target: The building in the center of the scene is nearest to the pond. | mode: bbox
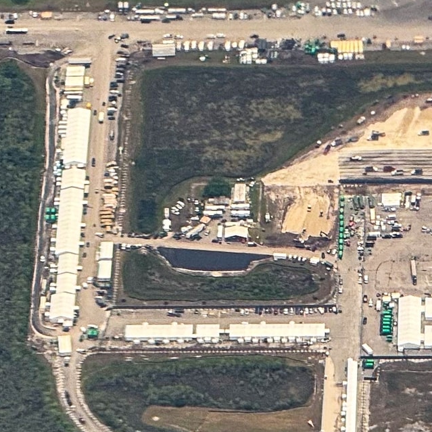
[225,225,248,241]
